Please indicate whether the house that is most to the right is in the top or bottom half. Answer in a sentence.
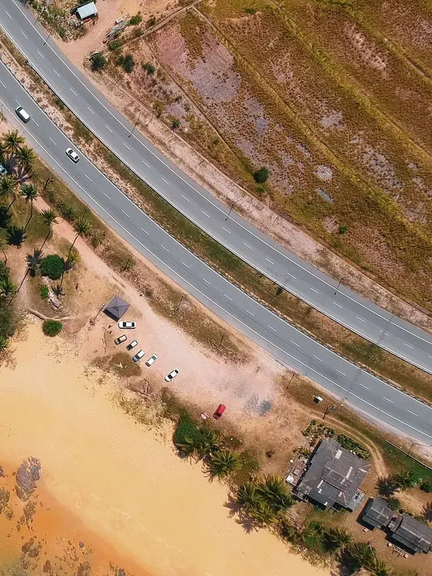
It is in the bottom half that the house that is most to the right appears.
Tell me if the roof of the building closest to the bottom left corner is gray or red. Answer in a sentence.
In this view, the roof of the building closest to the bottom left corner is gray.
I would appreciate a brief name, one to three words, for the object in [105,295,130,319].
building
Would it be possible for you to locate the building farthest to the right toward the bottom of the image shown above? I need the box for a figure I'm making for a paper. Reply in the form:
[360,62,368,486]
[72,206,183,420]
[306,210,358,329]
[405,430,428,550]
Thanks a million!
[362,496,432,552]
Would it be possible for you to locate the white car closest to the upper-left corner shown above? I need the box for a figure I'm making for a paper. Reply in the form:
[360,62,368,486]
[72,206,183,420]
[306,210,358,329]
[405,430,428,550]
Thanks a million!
[15,104,30,123]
